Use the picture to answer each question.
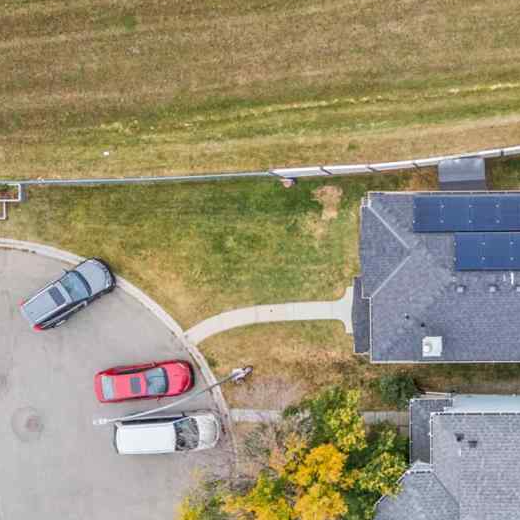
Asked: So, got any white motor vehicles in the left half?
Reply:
Yes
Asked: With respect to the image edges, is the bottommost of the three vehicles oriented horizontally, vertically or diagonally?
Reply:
horizontally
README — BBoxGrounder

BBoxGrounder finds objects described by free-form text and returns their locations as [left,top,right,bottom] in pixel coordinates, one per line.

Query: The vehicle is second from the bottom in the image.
[97,359,197,405]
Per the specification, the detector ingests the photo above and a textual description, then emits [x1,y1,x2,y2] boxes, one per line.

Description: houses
[368,393,520,520]
[350,191,520,361]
